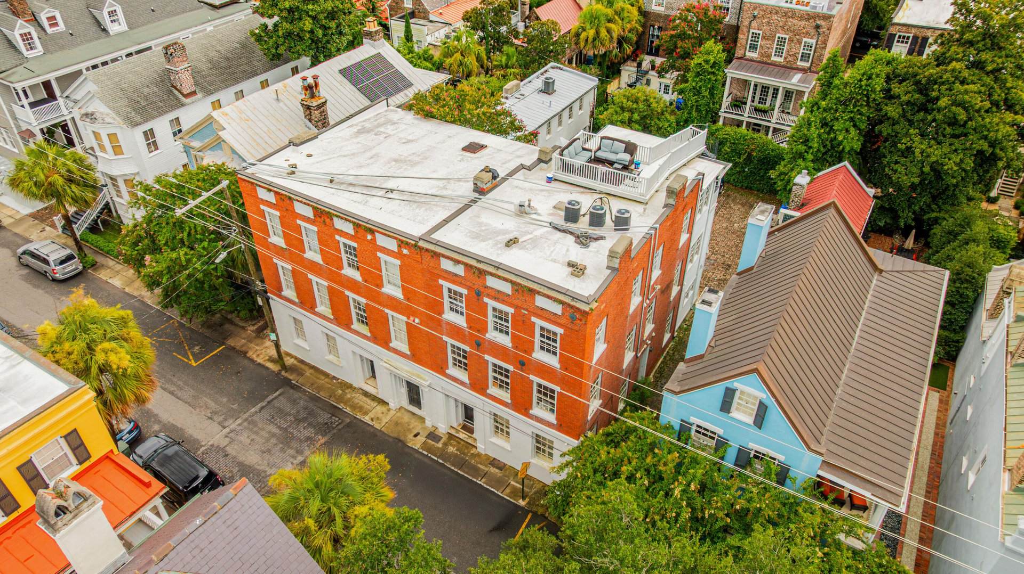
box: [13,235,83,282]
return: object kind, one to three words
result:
car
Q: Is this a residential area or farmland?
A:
residential area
